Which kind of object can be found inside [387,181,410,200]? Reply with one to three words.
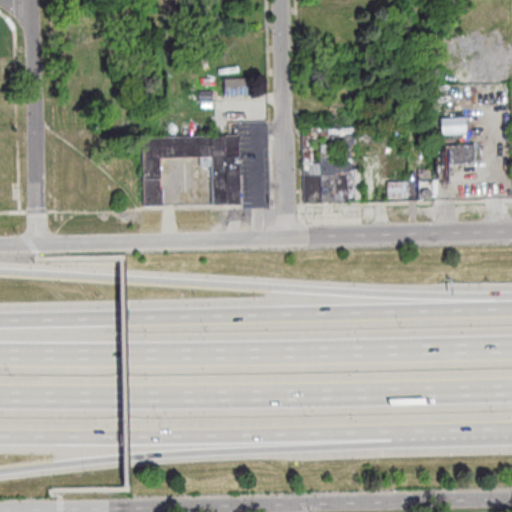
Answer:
building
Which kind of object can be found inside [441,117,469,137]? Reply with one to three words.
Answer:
building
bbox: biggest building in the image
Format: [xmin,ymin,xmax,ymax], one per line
[144,135,240,206]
